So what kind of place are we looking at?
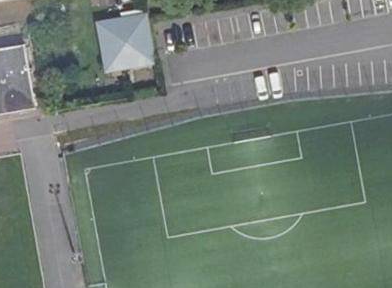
sports ground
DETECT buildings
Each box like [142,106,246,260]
[0,45,36,114]
[96,10,156,72]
